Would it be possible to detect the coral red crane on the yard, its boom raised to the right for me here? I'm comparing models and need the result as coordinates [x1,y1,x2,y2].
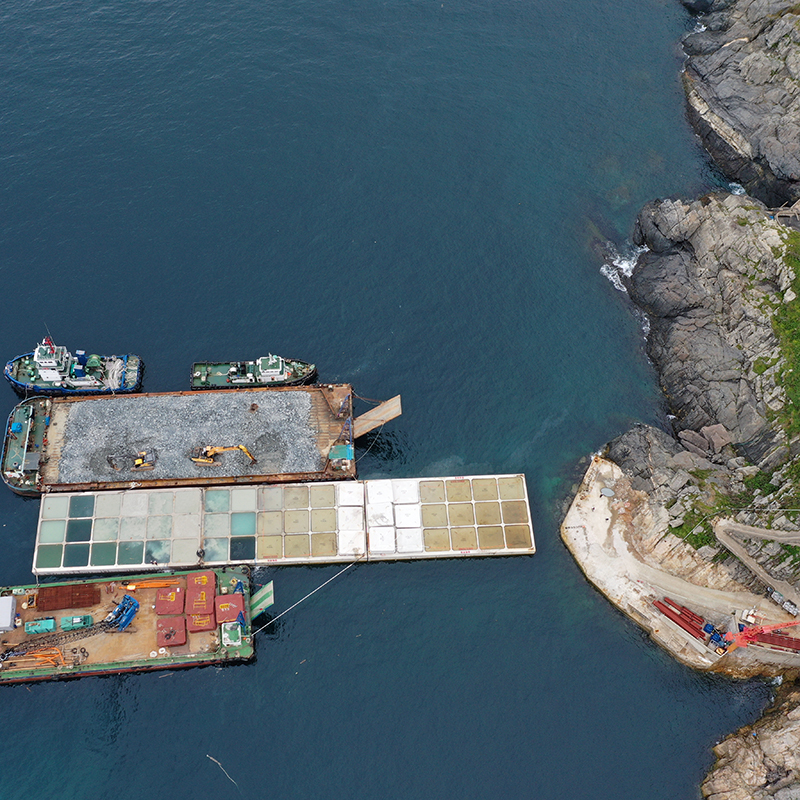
[723,612,800,655]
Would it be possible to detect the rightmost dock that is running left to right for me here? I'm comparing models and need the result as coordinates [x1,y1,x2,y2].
[364,474,536,562]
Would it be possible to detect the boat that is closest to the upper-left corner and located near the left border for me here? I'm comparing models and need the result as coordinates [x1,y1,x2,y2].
[2,334,144,395]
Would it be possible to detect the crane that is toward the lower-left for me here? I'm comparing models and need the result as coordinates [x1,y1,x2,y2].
[2,593,141,659]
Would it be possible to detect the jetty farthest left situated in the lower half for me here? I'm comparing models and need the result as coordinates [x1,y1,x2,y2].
[32,488,203,577]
